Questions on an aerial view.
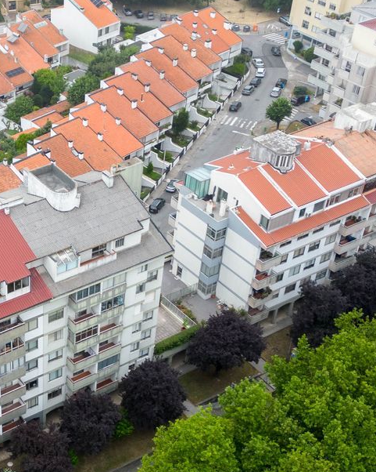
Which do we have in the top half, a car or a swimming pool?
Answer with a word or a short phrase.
car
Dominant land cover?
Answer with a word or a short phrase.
buildings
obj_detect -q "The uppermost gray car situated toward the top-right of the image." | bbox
[275,15,295,29]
